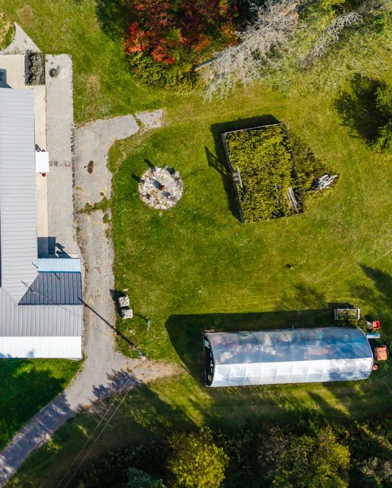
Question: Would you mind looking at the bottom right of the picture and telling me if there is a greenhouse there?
Yes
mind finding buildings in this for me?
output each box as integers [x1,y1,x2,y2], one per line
[0,86,82,360]
[205,326,373,389]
